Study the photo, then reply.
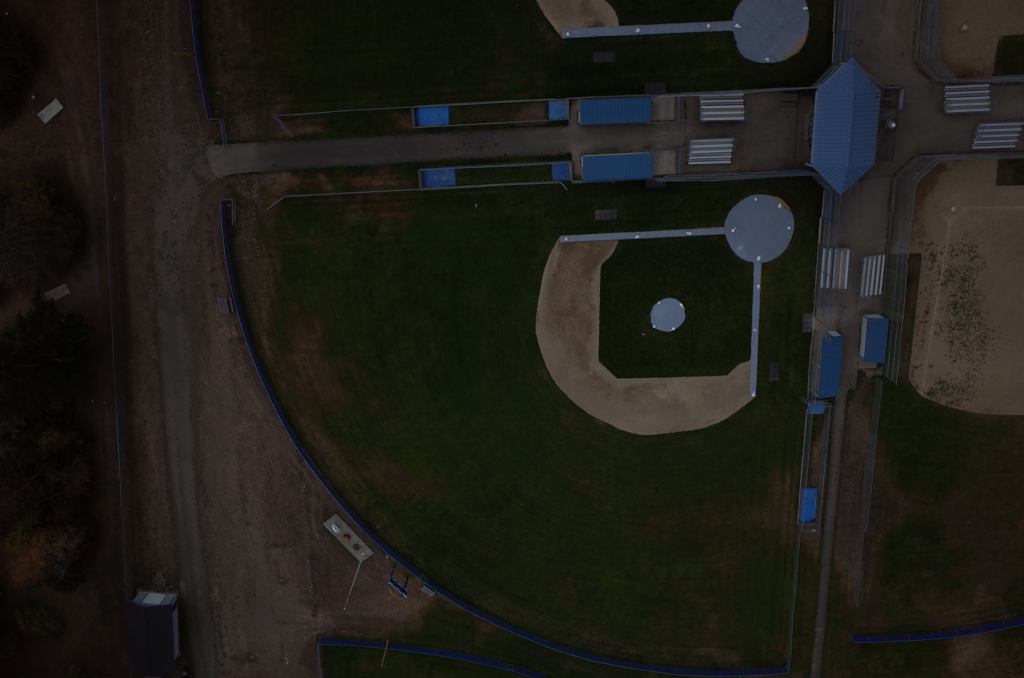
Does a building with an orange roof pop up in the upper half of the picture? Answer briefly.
No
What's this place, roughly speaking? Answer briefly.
sports ground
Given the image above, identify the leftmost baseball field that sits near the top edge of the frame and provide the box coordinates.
[195,0,834,144]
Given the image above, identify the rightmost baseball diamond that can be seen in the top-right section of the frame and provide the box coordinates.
[916,0,1024,81]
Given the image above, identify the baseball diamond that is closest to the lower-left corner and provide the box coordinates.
[319,641,530,678]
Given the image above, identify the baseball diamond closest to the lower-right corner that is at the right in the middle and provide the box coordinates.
[850,151,1024,636]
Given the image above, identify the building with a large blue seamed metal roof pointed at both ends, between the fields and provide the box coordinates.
[807,56,882,196]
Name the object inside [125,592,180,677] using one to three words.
shed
